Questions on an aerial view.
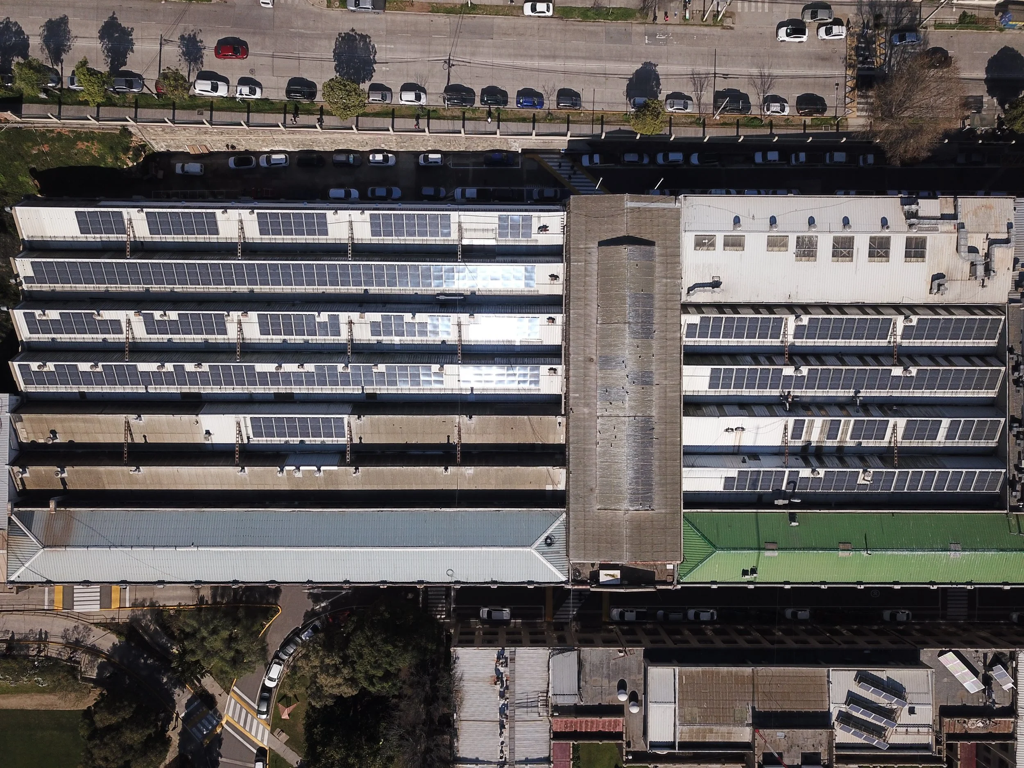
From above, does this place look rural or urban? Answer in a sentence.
It looks urban.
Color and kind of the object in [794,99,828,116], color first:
black car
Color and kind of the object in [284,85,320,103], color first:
black car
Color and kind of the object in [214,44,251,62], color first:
red car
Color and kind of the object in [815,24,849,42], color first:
white car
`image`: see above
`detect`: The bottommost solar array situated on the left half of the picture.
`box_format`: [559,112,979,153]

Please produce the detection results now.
[250,419,346,440]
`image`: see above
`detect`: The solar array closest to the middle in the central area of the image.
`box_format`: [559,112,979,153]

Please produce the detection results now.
[460,369,542,391]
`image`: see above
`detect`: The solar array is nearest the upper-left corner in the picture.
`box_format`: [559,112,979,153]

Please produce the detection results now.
[74,213,126,236]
